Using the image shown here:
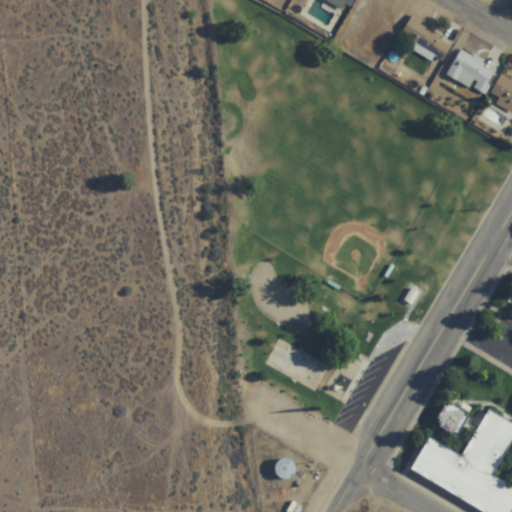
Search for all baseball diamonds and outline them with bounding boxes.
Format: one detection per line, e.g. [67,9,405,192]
[324,222,386,291]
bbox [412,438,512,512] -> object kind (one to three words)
building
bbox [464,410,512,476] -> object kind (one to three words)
building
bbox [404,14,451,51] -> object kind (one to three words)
house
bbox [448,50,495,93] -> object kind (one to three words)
house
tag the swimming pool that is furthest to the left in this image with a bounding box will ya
[300,0,338,33]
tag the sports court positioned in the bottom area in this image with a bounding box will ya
[266,338,326,390]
